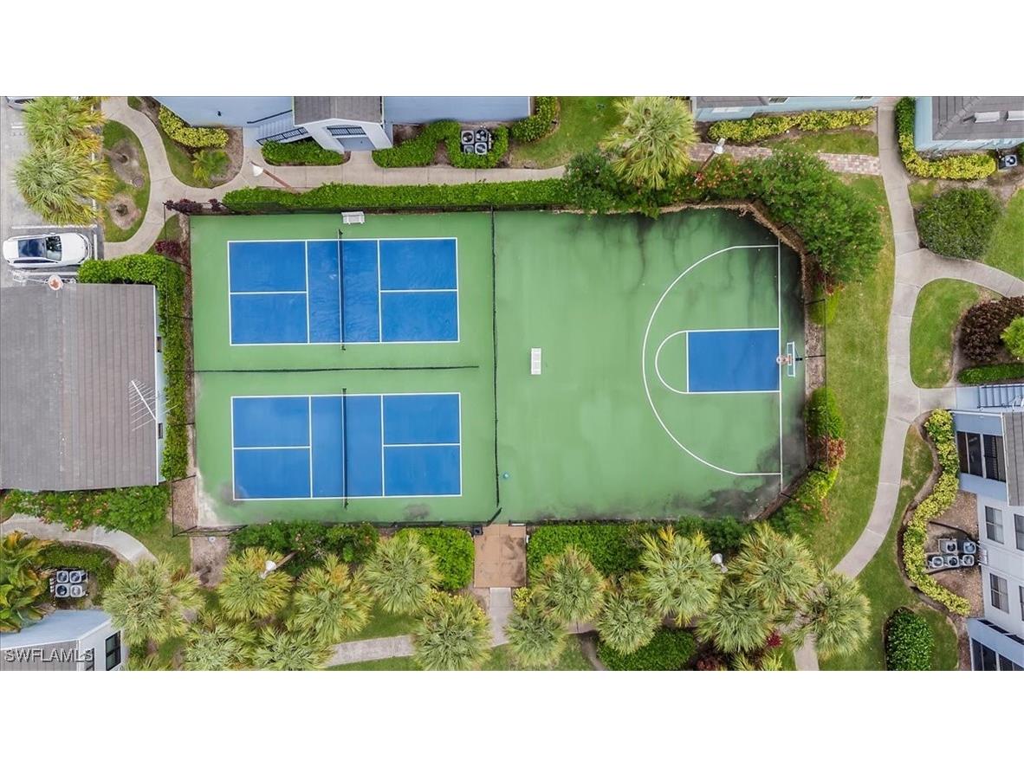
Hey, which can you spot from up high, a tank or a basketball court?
basketball court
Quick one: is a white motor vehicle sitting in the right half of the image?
No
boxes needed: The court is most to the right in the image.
[494,206,808,523]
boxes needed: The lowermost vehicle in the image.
[6,228,93,269]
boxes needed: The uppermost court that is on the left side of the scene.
[189,210,495,370]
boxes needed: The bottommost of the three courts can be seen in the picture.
[193,368,498,527]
